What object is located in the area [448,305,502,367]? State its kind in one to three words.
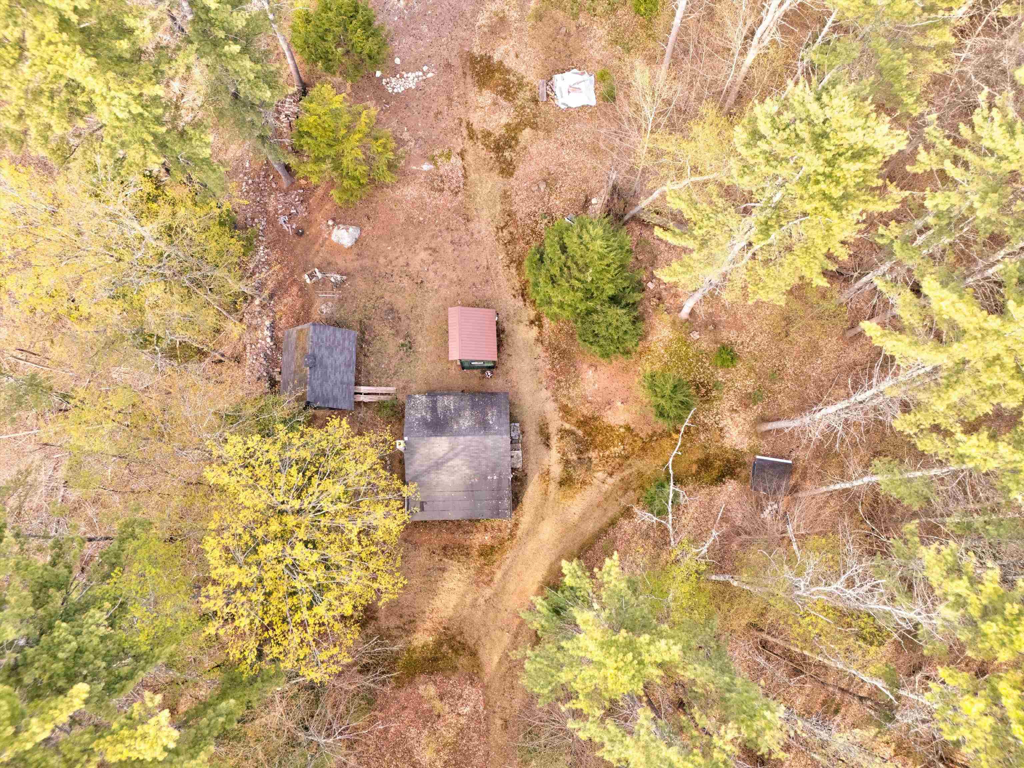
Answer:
shed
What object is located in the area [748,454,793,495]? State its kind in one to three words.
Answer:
shed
